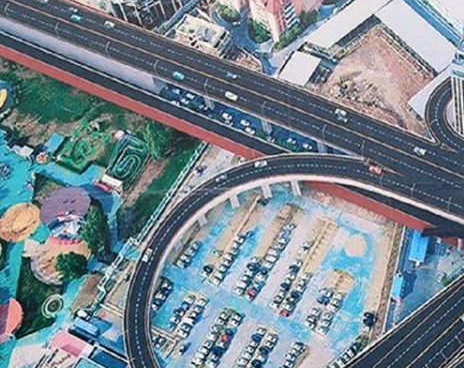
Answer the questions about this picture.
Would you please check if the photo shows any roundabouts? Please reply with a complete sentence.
No, I can see no roundabout in this picture.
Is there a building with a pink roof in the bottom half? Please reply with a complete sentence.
Yes, a building with a pink roof is visible in the bottom half.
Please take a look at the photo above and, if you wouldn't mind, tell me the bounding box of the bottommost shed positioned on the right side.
[391,273,405,305]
